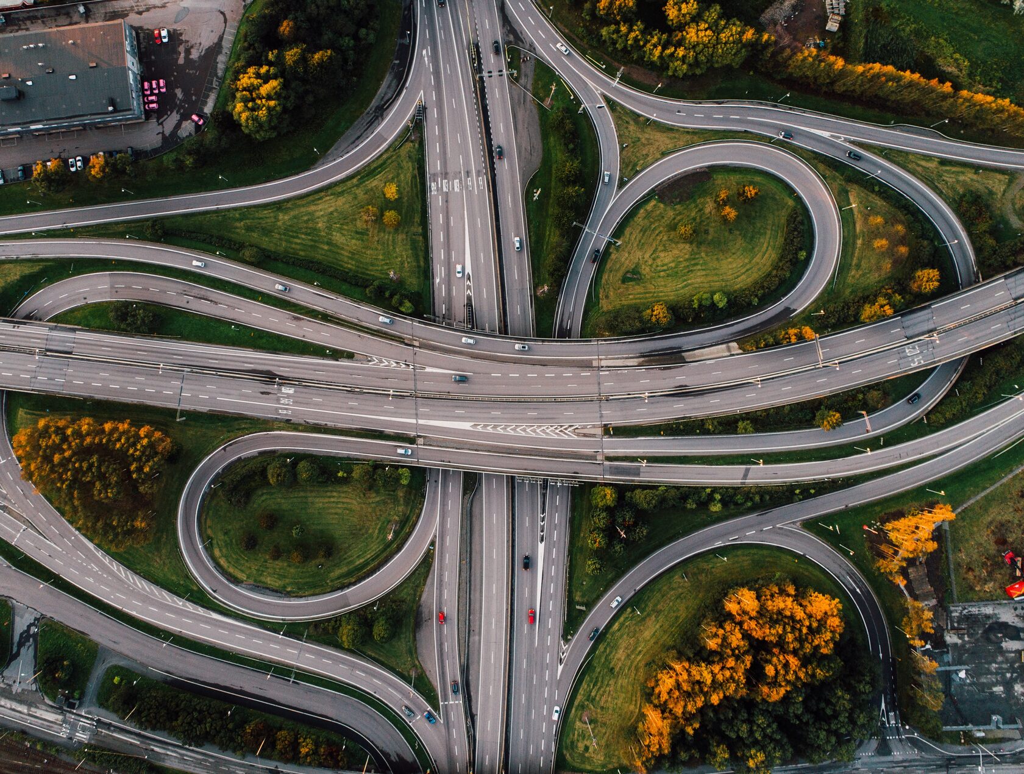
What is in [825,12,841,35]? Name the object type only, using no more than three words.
vehicle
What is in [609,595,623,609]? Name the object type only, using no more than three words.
vehicle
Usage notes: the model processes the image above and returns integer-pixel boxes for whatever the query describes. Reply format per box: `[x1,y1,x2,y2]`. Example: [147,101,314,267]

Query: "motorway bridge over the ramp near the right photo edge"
[931,268,1015,369]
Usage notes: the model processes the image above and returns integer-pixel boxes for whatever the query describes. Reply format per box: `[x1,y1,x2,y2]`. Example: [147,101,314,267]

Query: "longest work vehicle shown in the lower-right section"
[1001,551,1023,575]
